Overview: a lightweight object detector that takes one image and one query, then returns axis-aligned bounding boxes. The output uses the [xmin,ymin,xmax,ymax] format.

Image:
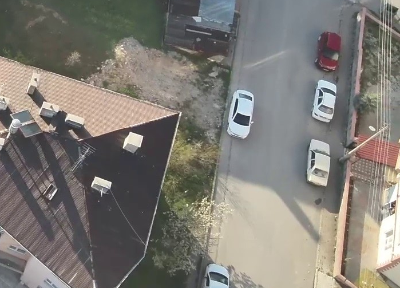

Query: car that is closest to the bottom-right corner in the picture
[302,138,335,190]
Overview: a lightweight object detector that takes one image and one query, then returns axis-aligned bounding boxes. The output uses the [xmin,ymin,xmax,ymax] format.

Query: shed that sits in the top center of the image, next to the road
[160,0,235,59]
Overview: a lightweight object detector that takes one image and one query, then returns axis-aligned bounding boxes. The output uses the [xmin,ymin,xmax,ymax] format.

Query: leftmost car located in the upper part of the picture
[226,89,255,140]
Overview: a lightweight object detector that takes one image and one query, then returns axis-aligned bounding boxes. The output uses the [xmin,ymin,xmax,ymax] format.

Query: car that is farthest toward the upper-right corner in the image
[314,30,343,72]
